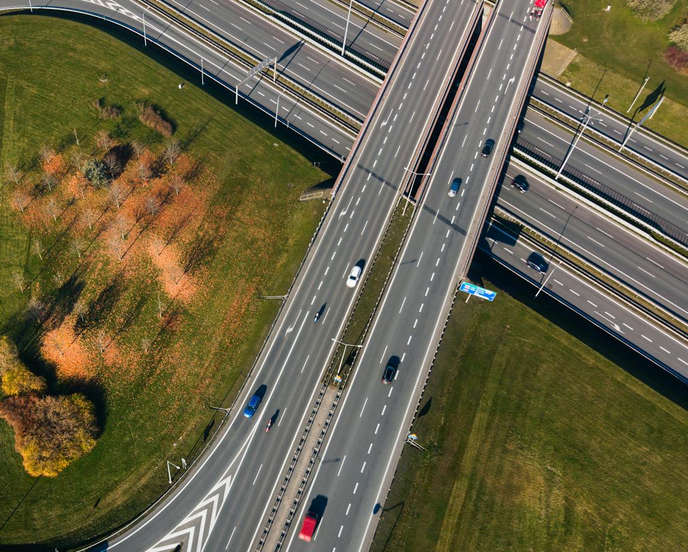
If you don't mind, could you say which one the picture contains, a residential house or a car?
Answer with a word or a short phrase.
car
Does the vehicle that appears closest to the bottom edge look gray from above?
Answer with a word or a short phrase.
No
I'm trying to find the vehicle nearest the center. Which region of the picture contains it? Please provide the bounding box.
[348,266,364,287]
